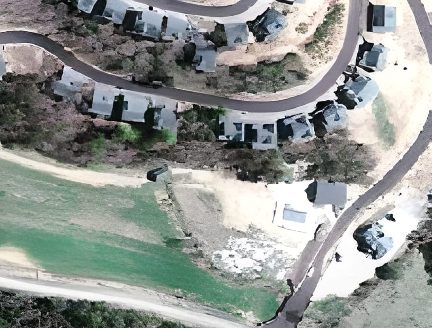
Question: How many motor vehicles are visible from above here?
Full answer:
No motor vehicles are visible.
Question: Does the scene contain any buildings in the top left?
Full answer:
Yes, a building appears in the top left.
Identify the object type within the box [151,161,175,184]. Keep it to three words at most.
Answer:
shed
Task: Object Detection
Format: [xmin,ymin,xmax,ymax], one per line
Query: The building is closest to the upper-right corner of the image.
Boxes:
[370,4,397,33]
